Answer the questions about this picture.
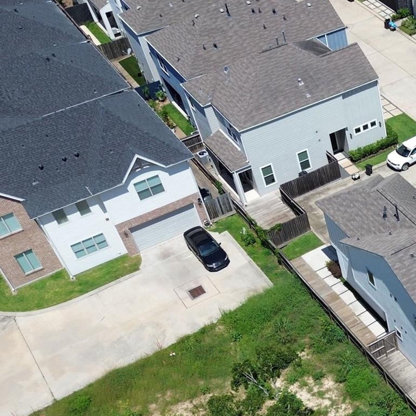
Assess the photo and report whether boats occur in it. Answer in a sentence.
No, I find no boat anywhere in the image.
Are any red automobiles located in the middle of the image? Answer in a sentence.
No, there's no red automobile to be seen in the middle of the image.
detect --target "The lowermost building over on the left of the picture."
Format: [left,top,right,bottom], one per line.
[0,85,214,293]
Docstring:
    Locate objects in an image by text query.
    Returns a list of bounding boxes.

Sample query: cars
[180,225,228,272]
[386,134,416,171]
